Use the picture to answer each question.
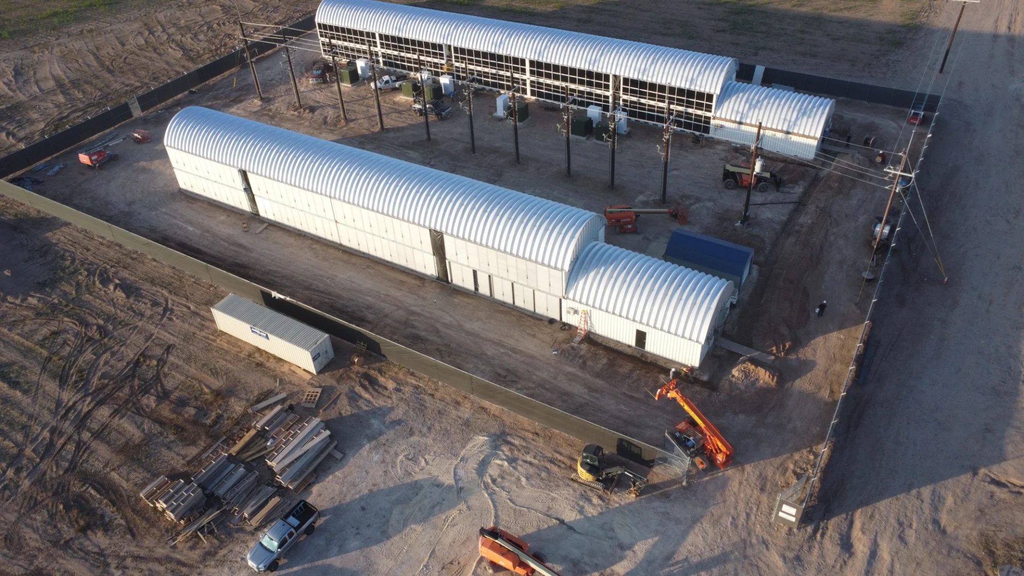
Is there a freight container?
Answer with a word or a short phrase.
Yes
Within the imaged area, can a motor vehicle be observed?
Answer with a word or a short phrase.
Yes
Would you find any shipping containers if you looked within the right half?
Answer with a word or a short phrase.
No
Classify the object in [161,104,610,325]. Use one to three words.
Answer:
building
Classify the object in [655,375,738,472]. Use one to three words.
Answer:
work vehicle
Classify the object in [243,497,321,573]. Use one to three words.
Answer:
truck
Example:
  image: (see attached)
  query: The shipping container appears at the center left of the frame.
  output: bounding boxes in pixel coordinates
[211,293,337,374]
